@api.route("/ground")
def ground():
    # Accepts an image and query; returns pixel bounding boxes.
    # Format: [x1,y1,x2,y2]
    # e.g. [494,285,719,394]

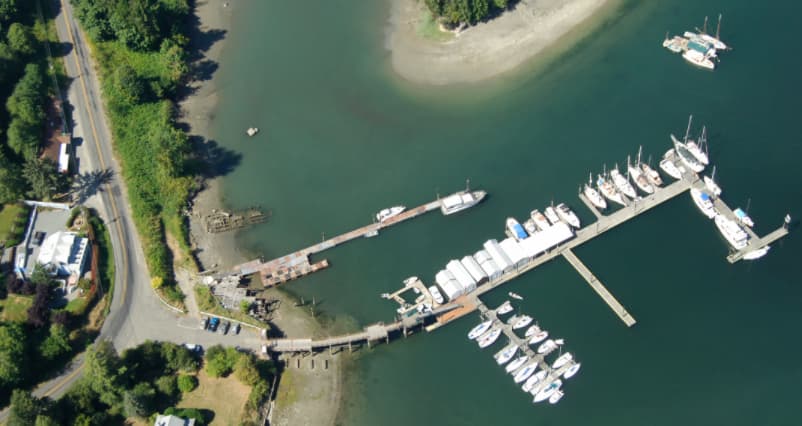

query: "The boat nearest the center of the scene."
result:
[376,205,406,222]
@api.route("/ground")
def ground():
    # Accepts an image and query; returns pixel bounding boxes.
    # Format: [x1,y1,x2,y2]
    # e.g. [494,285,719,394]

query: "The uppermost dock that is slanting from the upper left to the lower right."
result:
[672,151,790,263]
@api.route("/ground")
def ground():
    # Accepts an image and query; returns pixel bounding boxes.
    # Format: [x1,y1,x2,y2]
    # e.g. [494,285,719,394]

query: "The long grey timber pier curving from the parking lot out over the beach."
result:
[267,313,421,359]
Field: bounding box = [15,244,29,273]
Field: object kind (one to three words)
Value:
shed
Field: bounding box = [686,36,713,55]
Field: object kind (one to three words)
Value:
vessel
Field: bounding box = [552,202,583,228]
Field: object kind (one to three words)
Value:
boat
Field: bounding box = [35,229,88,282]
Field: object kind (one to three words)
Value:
house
